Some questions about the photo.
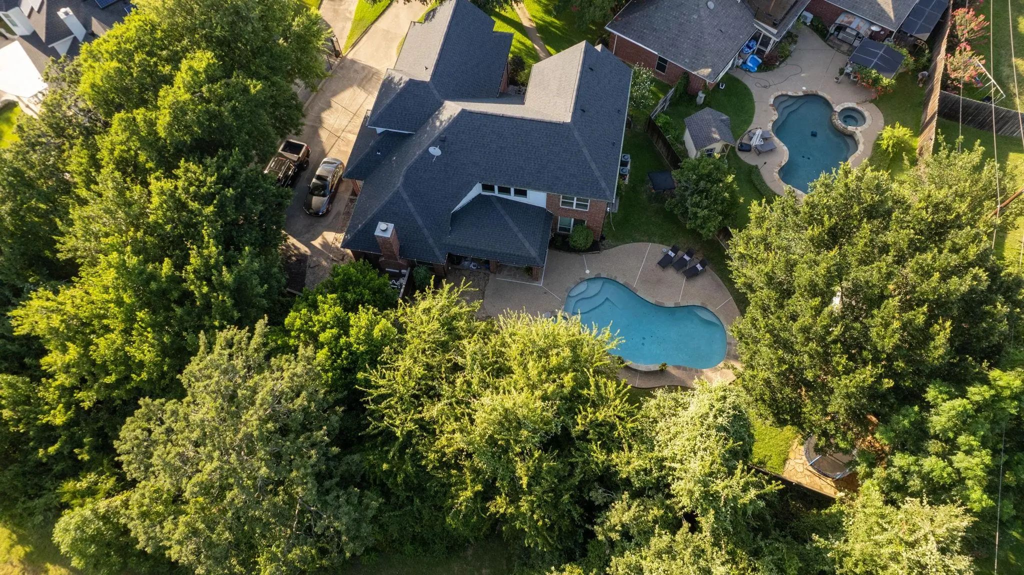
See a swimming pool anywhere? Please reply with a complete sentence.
Yes, the frame does contain a swimming pool.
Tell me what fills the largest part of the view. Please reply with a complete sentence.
The largest share of the image is taken up by trees.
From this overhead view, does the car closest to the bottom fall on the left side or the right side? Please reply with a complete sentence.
The car closest to the bottom is on the left side of the image.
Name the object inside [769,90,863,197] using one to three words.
swimming pool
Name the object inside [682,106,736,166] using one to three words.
shed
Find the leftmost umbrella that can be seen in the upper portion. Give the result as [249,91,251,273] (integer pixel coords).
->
[740,126,760,150]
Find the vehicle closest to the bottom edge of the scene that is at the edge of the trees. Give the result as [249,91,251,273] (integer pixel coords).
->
[305,163,343,215]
